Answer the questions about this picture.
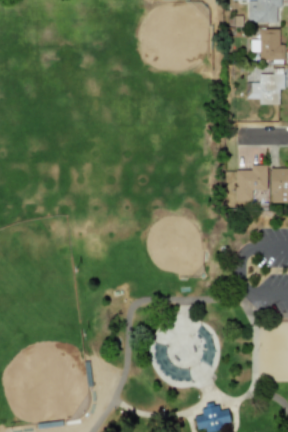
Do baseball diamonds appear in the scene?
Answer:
Yes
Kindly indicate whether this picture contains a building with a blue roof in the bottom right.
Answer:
Yes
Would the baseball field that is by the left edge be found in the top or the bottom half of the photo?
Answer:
bottom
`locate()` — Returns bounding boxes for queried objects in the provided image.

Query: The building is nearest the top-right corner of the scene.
[250,0,284,24]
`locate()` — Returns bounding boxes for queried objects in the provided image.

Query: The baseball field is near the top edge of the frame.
[139,0,214,72]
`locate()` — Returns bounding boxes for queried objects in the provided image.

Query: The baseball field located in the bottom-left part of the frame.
[0,215,90,424]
